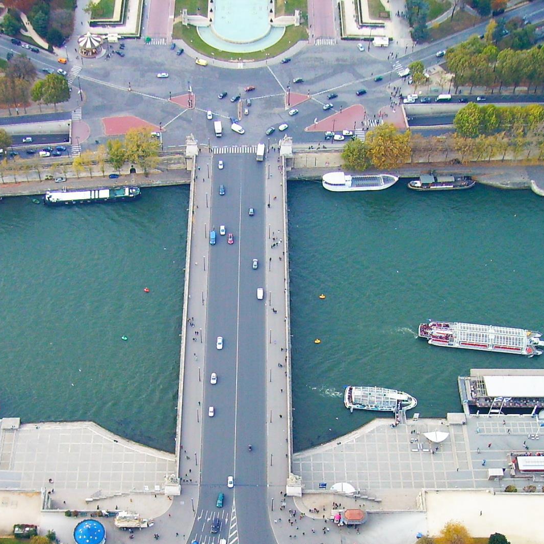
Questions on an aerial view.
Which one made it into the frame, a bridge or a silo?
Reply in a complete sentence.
Visible in the photo is a bridge.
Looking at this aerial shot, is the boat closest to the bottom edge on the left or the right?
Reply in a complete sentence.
The boat closest to the bottom edge is on the right side of the image.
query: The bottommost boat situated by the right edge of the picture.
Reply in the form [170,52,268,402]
[419,320,544,360]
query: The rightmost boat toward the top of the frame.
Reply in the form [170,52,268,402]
[405,173,478,191]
